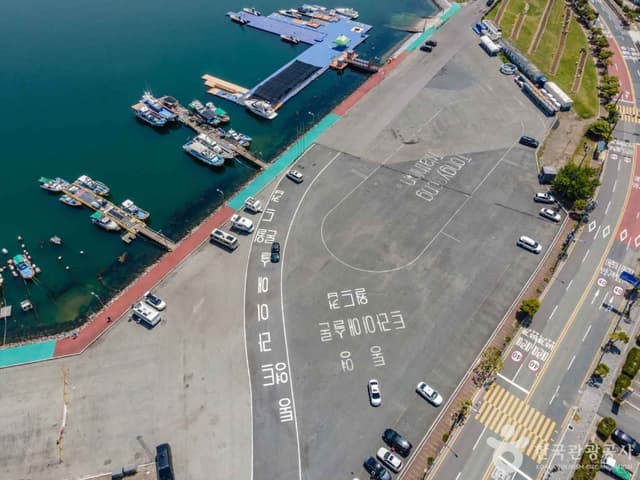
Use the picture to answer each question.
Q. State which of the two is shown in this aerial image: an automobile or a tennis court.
automobile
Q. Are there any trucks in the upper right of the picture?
Yes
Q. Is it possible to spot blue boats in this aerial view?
Yes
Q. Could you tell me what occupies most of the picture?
paved ground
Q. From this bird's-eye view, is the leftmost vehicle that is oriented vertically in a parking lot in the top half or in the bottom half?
bottom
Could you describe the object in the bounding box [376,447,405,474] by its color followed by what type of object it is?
white car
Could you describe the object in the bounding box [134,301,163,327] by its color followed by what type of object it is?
white vehicle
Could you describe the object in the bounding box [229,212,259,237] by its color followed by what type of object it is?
white vehicle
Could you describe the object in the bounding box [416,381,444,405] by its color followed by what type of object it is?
white car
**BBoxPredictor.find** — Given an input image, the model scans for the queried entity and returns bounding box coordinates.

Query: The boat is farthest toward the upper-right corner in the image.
[336,5,361,18]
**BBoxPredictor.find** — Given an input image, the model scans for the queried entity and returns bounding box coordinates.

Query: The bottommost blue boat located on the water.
[14,251,34,279]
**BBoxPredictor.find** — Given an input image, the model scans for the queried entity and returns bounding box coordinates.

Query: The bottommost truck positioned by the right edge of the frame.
[597,452,635,480]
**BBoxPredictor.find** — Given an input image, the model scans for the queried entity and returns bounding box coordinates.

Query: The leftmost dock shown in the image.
[61,182,147,232]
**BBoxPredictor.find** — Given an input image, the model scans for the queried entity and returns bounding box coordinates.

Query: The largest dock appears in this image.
[226,10,372,108]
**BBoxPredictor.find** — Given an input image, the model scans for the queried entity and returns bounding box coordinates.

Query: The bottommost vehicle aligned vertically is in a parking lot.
[156,439,176,480]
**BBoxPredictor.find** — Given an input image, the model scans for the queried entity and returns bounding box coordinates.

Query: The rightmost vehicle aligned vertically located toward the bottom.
[369,378,382,407]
